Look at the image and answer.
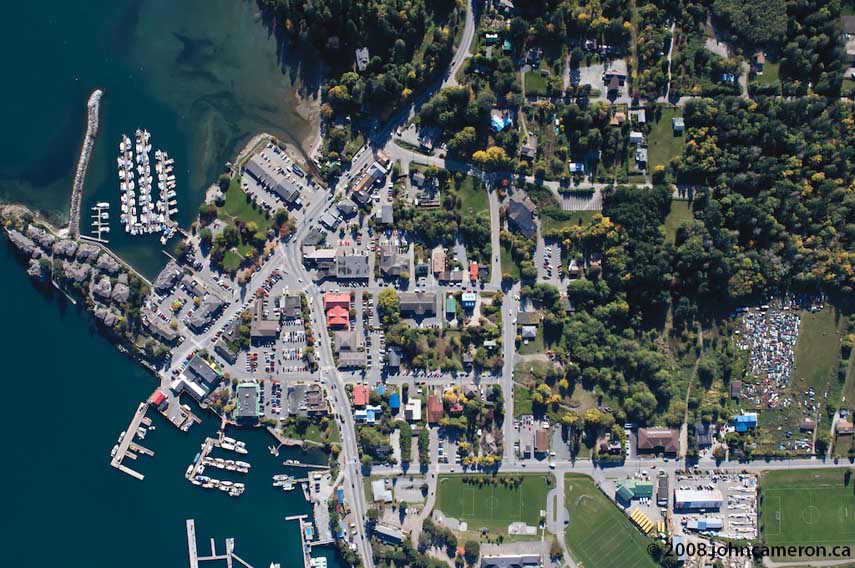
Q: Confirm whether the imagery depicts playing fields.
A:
Yes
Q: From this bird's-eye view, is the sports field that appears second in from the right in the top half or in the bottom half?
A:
bottom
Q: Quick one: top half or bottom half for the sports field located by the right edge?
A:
bottom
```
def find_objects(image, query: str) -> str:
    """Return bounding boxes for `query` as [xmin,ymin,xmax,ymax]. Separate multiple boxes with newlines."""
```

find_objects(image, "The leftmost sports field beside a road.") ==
[433,473,551,535]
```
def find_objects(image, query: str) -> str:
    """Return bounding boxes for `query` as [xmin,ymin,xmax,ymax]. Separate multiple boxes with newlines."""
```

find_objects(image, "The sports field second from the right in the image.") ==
[565,473,655,568]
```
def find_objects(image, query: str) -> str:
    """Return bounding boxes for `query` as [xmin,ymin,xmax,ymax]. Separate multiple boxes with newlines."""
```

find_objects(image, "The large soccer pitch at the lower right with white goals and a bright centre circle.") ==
[761,468,855,562]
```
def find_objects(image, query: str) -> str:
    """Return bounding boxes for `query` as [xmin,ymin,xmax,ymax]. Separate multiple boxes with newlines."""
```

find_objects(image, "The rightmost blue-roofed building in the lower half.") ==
[733,411,757,433]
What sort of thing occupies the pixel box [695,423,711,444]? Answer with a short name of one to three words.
house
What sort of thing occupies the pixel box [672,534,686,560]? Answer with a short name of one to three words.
building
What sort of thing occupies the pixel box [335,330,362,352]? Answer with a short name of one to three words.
building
